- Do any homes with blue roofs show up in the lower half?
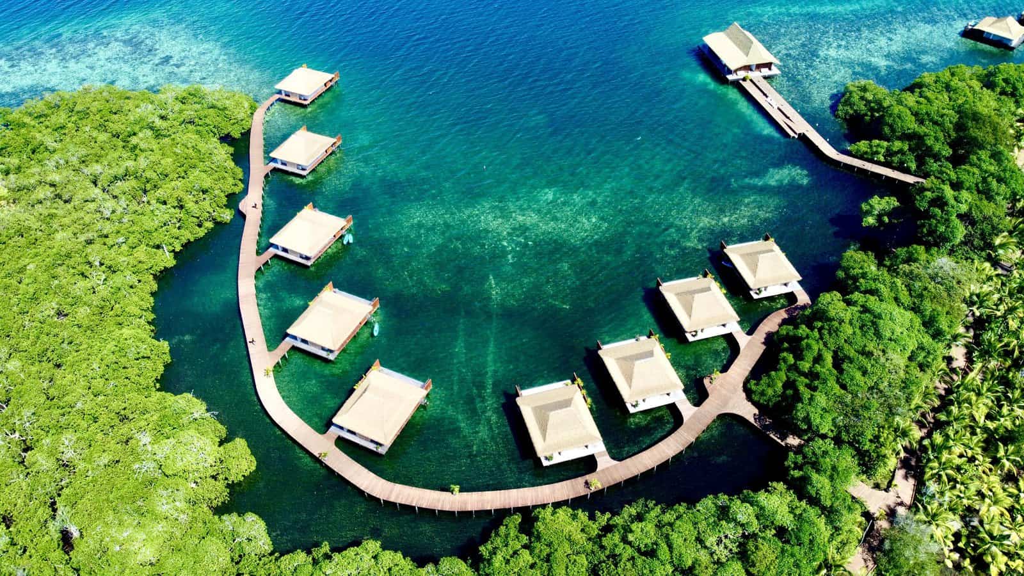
No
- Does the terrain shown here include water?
Yes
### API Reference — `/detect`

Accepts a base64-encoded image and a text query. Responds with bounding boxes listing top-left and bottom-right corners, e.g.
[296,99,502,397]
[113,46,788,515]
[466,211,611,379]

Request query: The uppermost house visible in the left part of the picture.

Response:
[276,65,342,108]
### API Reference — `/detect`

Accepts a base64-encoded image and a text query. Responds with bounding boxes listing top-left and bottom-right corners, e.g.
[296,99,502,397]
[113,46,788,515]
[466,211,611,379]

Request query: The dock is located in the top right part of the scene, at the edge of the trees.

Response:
[740,75,925,190]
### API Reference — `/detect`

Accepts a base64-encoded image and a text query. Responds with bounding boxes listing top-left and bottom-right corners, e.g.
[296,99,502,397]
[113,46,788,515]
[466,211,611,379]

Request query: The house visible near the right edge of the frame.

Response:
[963,15,1024,52]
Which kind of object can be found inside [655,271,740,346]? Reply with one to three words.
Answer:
house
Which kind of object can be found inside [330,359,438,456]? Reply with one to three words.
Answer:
house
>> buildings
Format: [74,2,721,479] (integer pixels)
[276,65,342,108]
[513,373,604,470]
[655,271,740,346]
[963,15,1024,52]
[270,126,346,178]
[286,283,384,363]
[330,359,438,456]
[596,330,685,417]
[701,23,782,85]
[269,203,357,269]
[719,236,801,304]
